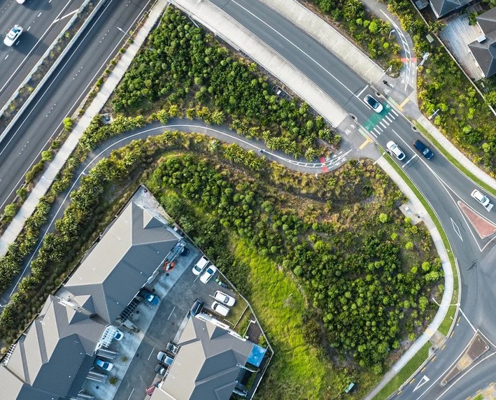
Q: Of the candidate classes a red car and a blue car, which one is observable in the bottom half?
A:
blue car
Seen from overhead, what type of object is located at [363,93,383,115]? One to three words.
car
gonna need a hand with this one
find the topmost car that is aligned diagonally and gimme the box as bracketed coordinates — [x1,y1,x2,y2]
[4,25,24,47]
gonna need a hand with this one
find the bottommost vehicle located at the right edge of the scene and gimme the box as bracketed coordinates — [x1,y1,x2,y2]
[470,188,493,212]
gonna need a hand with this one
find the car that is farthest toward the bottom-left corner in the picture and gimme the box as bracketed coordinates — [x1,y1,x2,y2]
[92,357,117,373]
